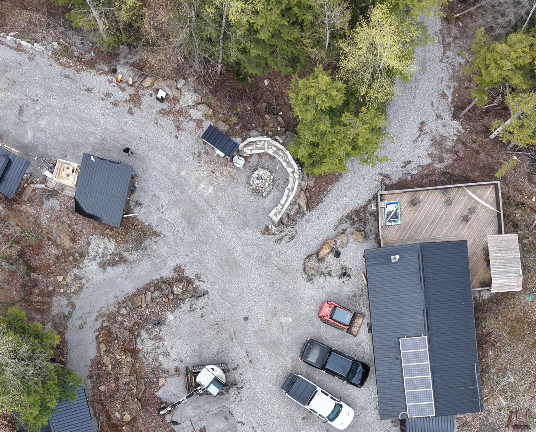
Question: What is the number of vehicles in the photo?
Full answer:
The number of vehicles here is 4.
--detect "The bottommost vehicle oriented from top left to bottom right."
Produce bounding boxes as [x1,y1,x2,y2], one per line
[284,374,356,428]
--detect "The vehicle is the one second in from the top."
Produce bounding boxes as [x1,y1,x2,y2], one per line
[298,339,373,387]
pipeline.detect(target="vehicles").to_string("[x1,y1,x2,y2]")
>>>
[298,339,373,387]
[321,303,368,343]
[284,374,356,428]
[160,367,225,413]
